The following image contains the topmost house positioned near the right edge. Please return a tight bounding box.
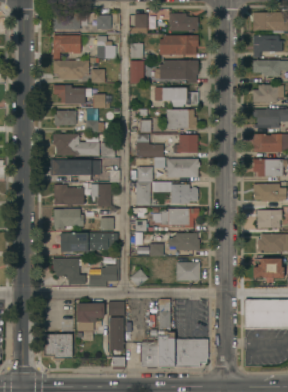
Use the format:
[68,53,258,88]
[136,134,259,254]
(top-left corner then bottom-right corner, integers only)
[254,11,288,30]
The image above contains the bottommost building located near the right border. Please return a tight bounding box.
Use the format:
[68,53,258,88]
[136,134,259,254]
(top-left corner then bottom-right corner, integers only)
[246,299,288,329]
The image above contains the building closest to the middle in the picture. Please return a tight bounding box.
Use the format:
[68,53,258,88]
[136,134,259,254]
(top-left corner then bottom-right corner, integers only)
[136,182,151,204]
